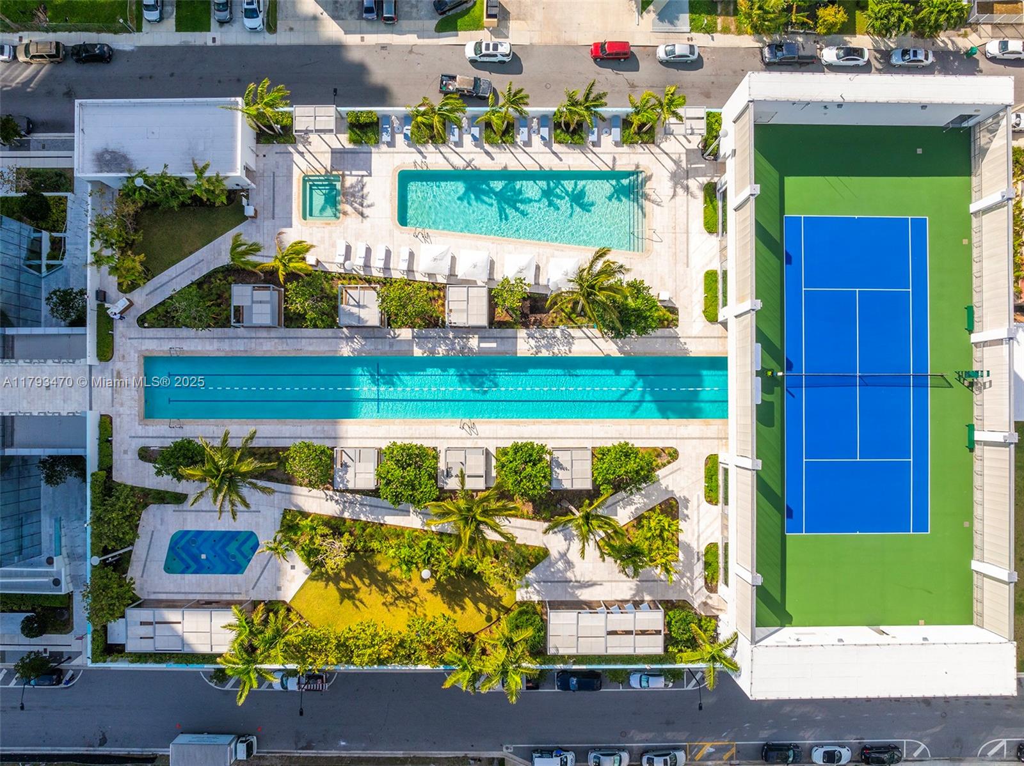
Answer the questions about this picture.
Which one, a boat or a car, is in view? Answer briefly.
car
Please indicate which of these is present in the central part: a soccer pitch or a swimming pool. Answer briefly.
swimming pool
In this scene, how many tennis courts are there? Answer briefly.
1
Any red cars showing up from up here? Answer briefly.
Yes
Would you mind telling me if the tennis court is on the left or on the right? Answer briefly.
right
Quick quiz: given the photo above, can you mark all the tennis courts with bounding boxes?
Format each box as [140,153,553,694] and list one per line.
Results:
[756,125,974,624]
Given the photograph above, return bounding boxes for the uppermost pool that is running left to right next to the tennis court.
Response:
[391,164,652,258]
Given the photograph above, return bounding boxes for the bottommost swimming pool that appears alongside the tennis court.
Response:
[139,352,726,424]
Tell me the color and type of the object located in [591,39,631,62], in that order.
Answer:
red car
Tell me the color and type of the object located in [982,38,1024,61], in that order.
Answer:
white car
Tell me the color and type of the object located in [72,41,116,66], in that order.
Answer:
black car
